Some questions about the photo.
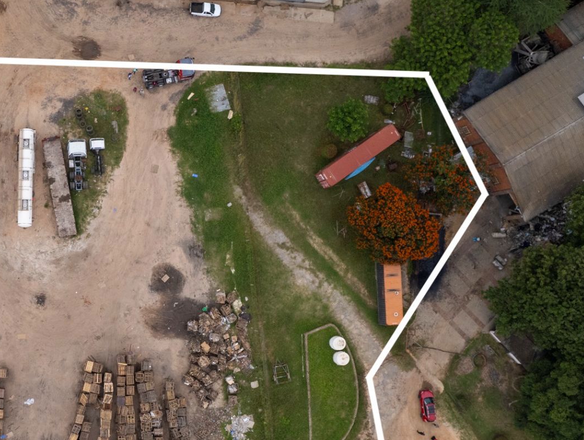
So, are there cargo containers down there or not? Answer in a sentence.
Yes, the frame does contain a cargo container.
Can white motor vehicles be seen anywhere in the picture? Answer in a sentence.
Yes, a white motor vehicle can be made out from above.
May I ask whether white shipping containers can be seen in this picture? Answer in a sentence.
No, the scene contains no white shipping container.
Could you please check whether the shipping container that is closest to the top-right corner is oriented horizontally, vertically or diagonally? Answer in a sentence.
In this picture, the shipping container that is closest to the top-right corner lies diagonally.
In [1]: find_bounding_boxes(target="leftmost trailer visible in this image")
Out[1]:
[18,128,36,229]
